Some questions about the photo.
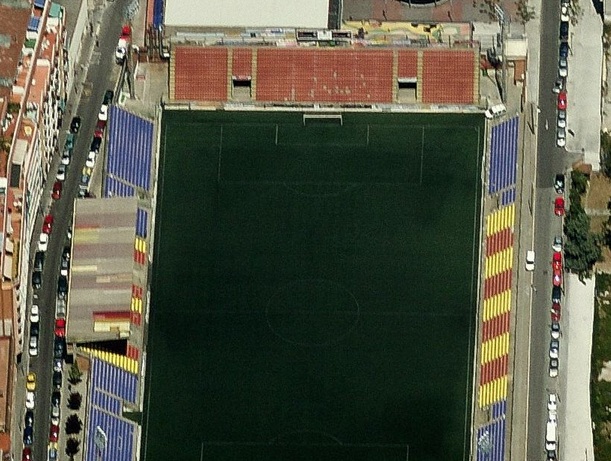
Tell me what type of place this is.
sports ground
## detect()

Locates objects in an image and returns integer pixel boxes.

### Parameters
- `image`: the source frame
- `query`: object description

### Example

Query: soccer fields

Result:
[121,110,485,461]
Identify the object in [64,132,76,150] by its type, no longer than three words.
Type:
vehicle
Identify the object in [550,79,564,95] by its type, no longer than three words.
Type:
vehicle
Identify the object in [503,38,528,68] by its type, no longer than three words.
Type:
building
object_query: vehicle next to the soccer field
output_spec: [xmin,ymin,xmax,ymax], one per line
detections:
[483,103,505,120]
